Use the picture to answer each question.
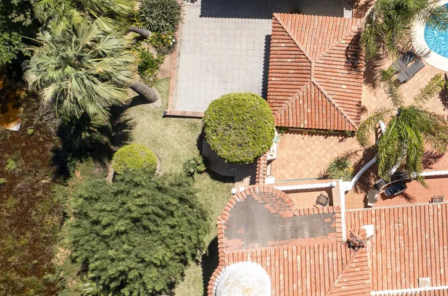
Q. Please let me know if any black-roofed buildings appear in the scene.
No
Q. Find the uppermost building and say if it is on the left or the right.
right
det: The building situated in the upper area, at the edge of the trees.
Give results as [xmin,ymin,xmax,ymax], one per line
[264,10,366,134]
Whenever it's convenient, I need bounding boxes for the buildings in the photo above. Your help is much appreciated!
[264,10,366,134]
[206,185,448,296]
